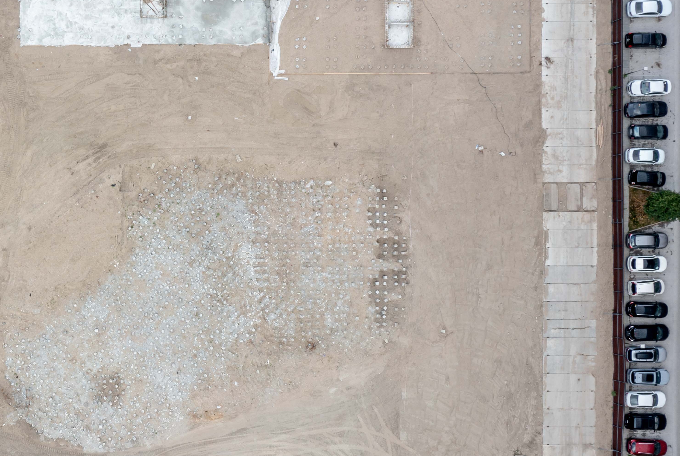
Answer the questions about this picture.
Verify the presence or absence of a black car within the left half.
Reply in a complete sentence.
No, I see no black car within the left half.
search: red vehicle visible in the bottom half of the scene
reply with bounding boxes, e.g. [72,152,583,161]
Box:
[624,437,667,456]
